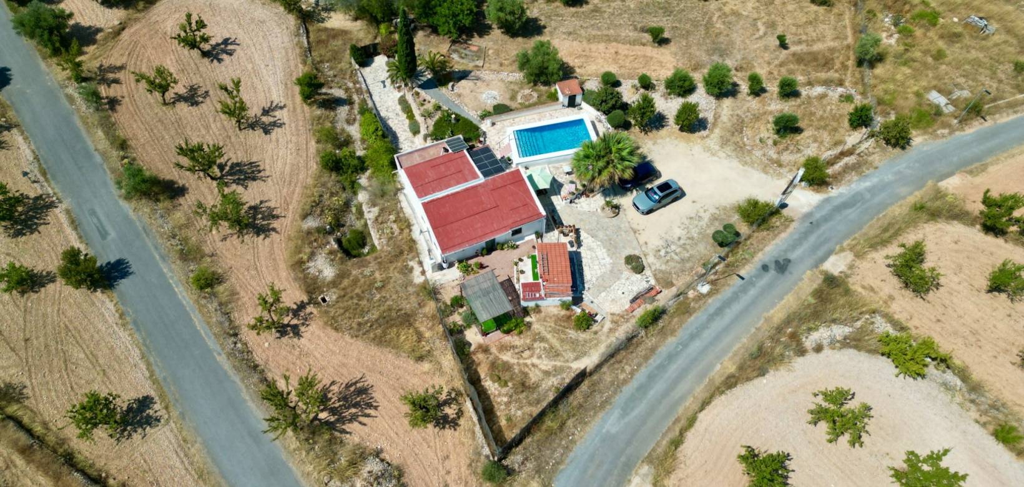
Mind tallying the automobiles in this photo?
2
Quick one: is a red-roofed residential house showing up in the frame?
Yes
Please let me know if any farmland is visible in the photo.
Yes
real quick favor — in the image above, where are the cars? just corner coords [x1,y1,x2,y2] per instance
[618,159,660,192]
[632,179,683,215]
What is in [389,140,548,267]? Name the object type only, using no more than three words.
house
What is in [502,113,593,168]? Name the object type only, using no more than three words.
swimming pool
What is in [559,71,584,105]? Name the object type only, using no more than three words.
shed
